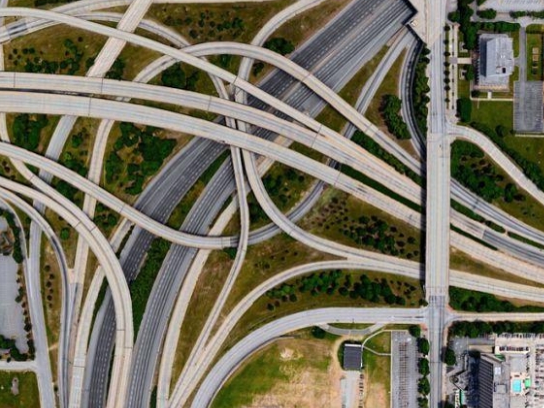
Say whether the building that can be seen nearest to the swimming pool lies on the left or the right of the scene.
right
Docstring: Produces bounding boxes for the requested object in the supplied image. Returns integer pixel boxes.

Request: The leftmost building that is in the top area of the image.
[475,35,513,91]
